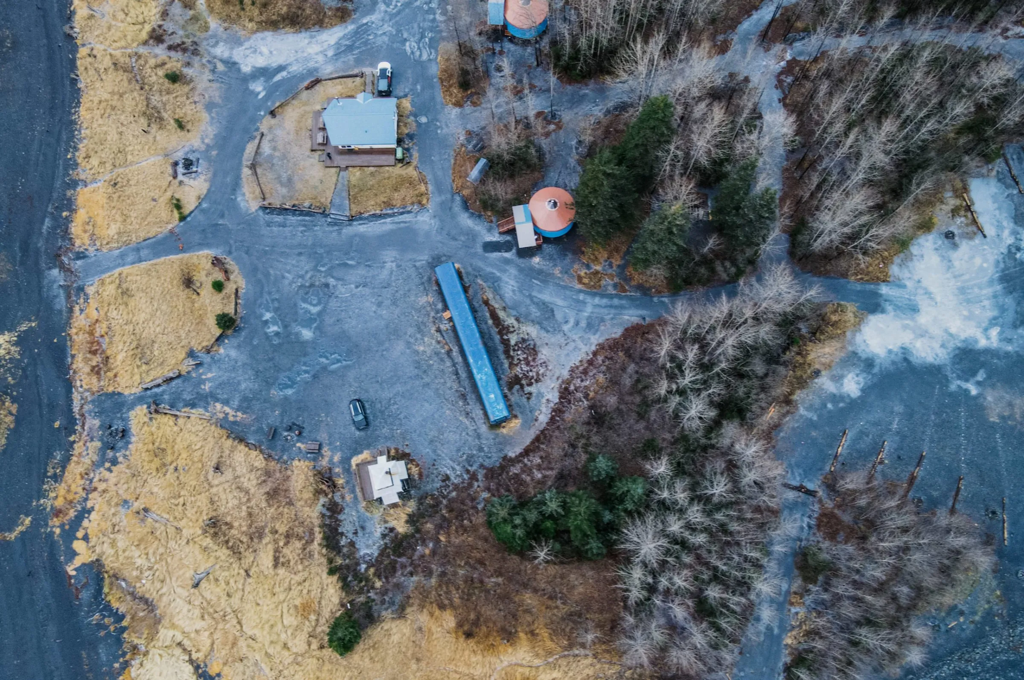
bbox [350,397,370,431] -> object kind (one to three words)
car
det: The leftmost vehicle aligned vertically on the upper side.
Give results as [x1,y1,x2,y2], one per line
[376,63,391,95]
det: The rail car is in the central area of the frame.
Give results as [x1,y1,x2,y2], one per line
[436,264,510,426]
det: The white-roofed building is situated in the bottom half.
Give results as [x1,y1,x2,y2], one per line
[368,455,409,505]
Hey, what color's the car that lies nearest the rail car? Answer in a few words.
blue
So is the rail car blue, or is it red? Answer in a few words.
blue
